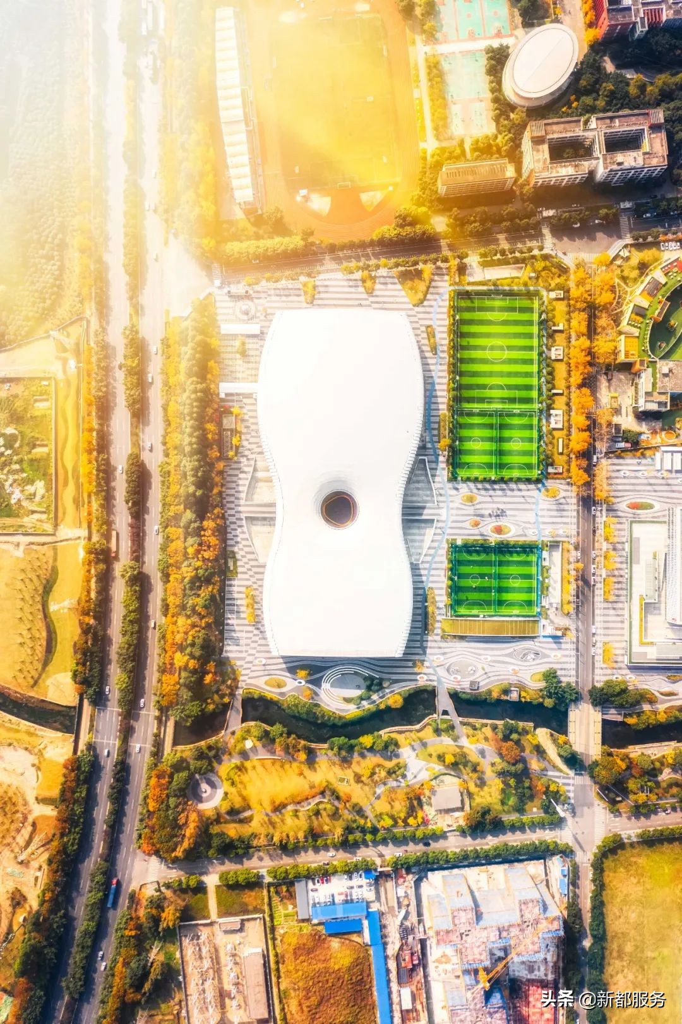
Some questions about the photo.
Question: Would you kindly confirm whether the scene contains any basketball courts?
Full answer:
Yes, a basketball court appears in the view.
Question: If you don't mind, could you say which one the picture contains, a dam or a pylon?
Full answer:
This aerial view contains a pylon.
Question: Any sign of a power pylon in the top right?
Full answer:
No, no power pylon appears in the top right.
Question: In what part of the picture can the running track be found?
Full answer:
Look in the top portion of the view to spot the running track.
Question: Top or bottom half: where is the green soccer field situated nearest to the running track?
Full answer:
It is in the top half that the green soccer field situated nearest to the running track appears.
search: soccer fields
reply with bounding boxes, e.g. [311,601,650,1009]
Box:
[498,411,540,478]
[457,293,540,409]
[457,411,496,478]
[454,547,495,615]
[496,547,539,615]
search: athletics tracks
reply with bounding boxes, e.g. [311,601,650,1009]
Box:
[255,0,428,238]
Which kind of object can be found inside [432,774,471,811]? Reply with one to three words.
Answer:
building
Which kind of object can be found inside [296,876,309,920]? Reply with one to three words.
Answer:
shed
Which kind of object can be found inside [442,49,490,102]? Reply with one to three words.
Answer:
basketball court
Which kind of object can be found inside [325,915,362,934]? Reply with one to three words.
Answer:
shed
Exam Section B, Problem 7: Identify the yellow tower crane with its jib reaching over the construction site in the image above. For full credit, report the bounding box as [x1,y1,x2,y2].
[471,906,562,994]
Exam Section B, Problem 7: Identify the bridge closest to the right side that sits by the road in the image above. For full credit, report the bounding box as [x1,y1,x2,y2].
[568,700,603,758]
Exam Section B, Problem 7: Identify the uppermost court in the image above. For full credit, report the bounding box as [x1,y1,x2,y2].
[436,0,515,46]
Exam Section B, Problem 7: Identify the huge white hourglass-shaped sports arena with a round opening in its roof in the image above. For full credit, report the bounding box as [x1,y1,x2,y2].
[257,306,424,656]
